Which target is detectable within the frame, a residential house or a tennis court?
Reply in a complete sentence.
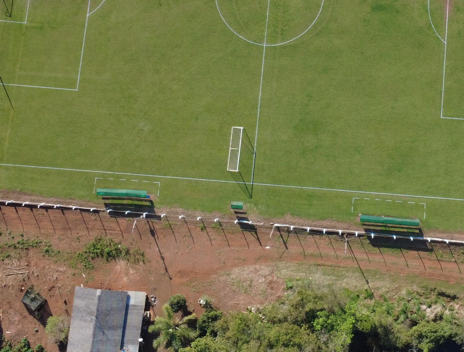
The one in the frame is a residential house.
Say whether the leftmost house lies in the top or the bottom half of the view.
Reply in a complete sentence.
You can find the leftmost house in the bottom half.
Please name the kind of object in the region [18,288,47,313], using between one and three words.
house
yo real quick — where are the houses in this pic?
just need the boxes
[67,287,147,352]
[18,288,47,313]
